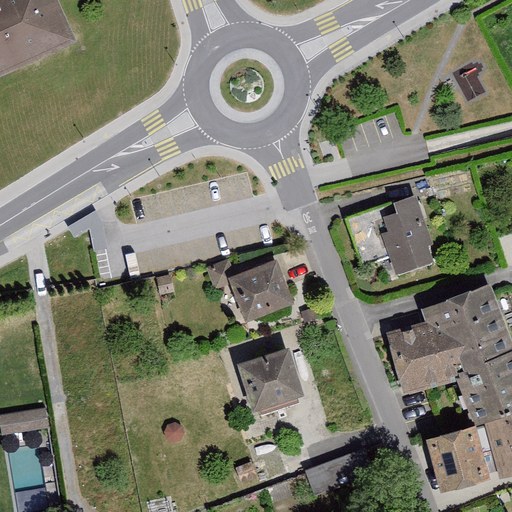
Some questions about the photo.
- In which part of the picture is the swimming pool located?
bottom left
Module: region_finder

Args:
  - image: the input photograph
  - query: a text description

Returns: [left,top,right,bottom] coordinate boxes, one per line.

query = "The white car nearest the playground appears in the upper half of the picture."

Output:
[376,118,390,137]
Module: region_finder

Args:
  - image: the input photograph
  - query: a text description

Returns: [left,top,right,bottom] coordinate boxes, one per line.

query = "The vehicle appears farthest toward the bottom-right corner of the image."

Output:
[426,468,439,490]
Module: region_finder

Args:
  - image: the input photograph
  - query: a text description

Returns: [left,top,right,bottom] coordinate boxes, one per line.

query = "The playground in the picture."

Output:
[440,59,488,103]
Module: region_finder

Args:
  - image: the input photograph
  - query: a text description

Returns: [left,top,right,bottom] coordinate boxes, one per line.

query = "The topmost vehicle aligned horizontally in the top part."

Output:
[387,187,410,200]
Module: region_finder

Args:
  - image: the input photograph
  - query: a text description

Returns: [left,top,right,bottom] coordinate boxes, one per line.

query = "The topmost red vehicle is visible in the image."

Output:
[288,266,308,278]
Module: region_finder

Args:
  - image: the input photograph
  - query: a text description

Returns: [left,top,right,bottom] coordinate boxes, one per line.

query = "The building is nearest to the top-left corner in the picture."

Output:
[0,0,76,76]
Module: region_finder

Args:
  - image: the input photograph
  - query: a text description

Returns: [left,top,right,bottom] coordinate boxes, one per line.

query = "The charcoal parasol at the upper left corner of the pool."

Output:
[2,435,20,453]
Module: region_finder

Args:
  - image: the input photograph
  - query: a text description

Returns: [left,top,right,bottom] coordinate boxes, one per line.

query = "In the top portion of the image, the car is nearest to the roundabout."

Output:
[208,179,220,202]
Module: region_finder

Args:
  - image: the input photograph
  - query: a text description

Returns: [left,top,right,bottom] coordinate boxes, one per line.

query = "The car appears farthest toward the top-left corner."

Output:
[134,199,146,221]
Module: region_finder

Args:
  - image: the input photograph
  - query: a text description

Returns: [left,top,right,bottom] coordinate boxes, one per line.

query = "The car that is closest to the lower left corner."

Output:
[35,271,48,296]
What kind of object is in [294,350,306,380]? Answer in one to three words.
boat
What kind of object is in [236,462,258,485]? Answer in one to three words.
shed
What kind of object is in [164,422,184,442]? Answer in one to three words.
gazebo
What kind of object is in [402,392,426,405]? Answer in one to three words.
vehicle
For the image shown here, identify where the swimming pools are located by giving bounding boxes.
[4,430,60,512]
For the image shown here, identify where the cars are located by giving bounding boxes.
[402,392,426,405]
[134,199,146,221]
[402,406,426,418]
[260,222,272,244]
[35,271,48,296]
[387,187,410,200]
[208,179,220,202]
[376,118,390,137]
[426,468,439,490]
[288,266,308,278]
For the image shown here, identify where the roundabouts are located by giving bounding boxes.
[182,21,312,150]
